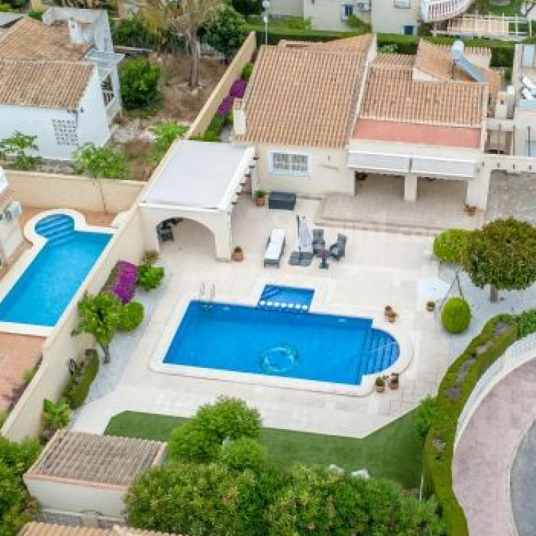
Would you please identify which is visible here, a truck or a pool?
pool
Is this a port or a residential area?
residential area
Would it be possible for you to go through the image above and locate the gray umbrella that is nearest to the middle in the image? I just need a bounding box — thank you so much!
[289,211,313,266]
